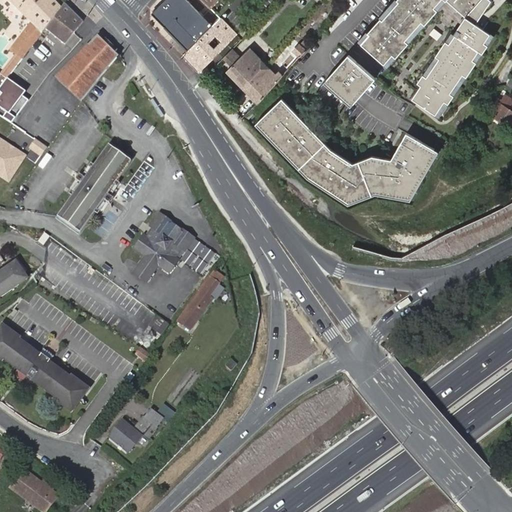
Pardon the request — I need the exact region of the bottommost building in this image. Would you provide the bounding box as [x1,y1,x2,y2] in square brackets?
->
[9,472,56,512]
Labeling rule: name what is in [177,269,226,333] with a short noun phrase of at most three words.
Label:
house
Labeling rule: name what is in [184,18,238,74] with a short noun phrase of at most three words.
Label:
building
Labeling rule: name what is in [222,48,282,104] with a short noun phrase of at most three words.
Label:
house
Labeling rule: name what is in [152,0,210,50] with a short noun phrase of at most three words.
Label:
building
